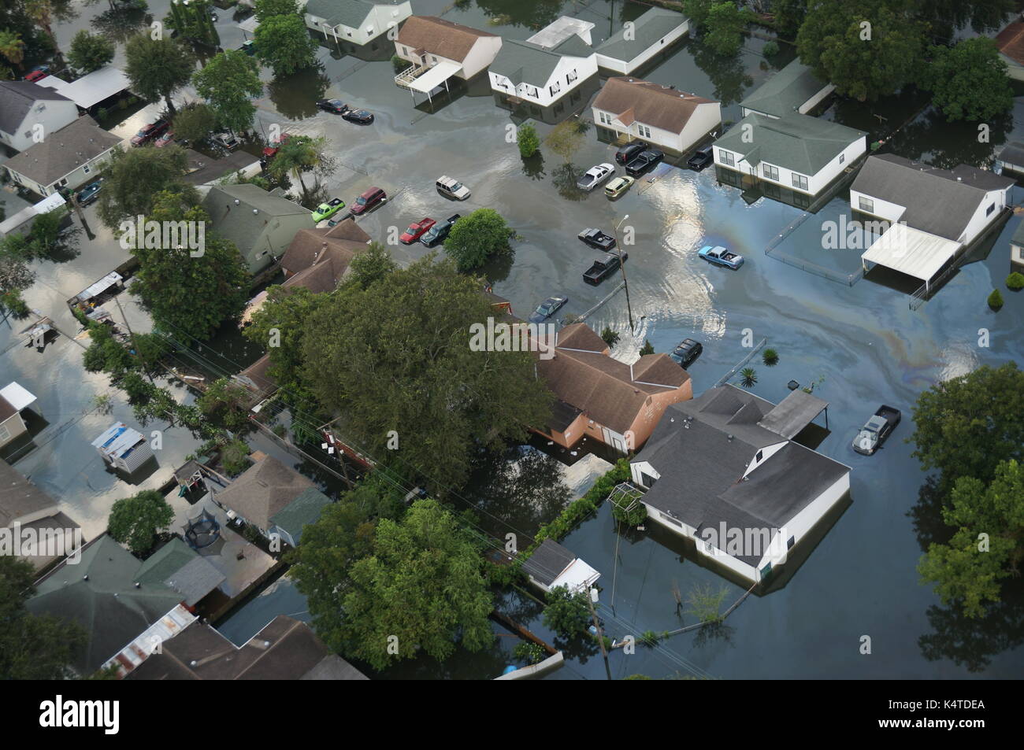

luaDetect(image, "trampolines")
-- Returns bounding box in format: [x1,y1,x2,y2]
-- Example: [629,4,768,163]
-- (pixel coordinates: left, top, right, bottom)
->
[178,509,223,557]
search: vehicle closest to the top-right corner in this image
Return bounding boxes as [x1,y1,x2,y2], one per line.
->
[678,143,716,174]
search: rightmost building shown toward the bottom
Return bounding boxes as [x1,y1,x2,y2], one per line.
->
[622,374,855,580]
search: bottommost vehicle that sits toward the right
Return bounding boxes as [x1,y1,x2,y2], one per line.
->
[846,403,910,459]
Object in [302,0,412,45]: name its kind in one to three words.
house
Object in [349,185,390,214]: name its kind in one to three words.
car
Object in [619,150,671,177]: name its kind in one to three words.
truck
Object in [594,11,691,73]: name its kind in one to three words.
shed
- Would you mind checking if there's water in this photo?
Yes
